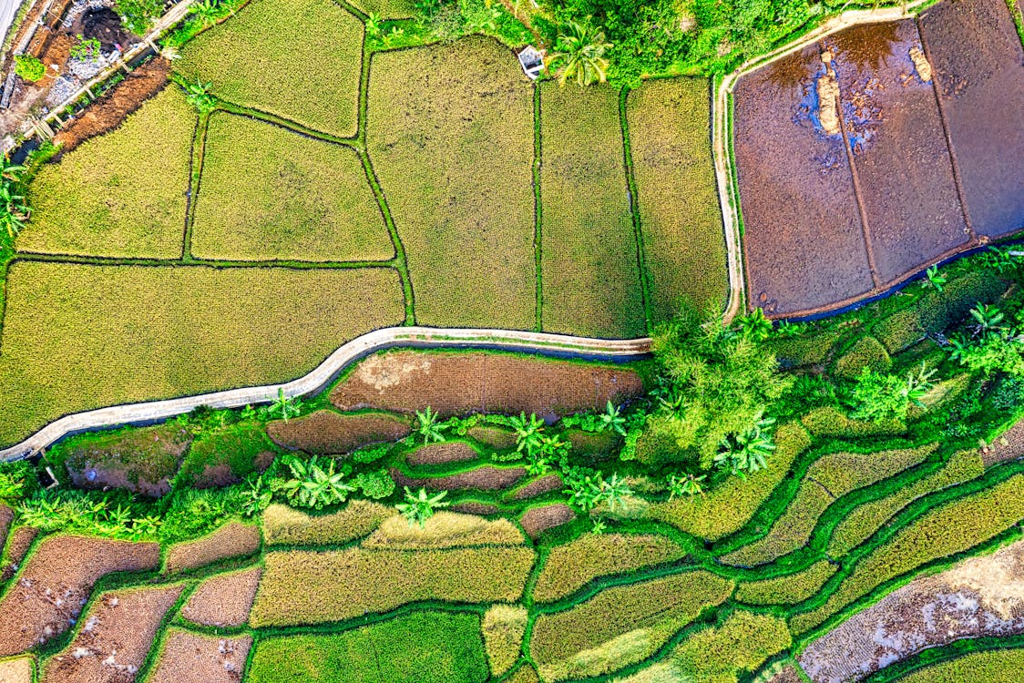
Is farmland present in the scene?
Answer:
Yes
